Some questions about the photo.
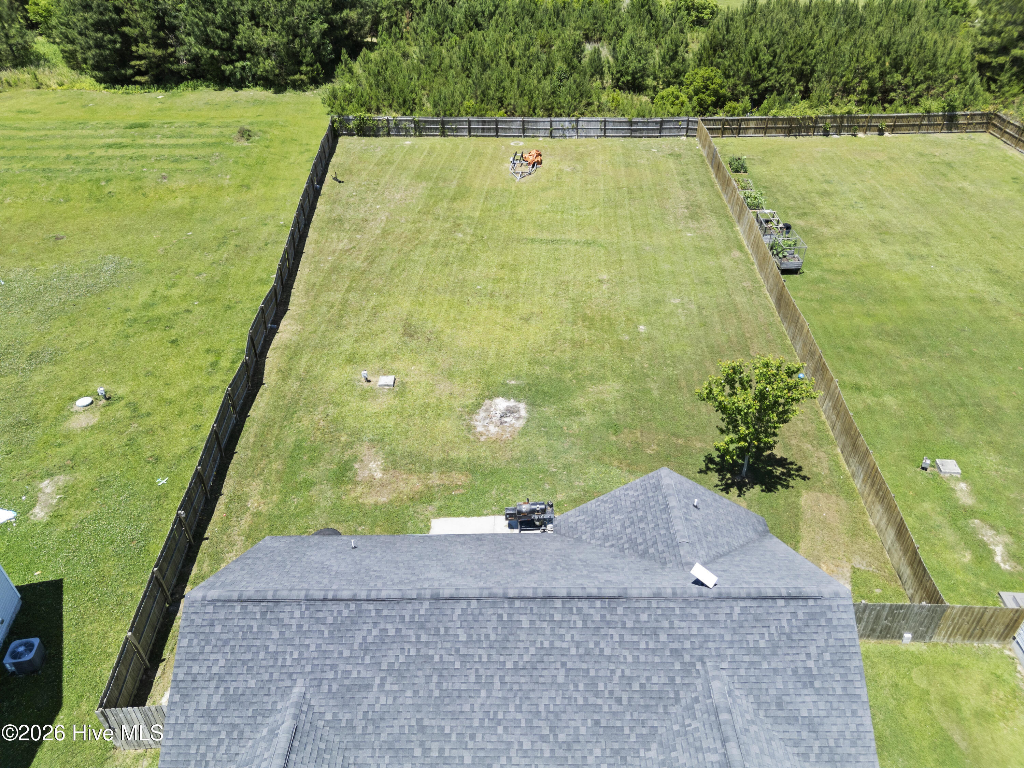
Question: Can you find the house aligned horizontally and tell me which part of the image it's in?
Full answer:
You can find the house aligned horizontally in the bottom area of the picture.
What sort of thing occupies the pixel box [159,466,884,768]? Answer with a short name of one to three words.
house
